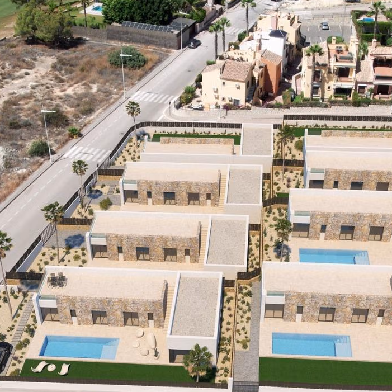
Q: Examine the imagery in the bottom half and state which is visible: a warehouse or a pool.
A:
pool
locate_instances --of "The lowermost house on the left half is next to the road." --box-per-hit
[34,266,219,365]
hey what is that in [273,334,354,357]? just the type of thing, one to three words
swimming pool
